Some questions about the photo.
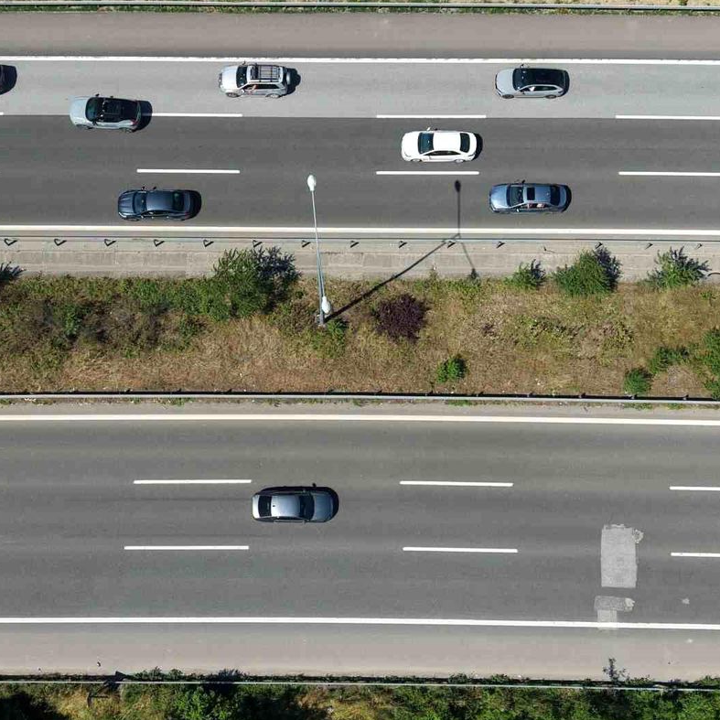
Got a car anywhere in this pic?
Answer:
Yes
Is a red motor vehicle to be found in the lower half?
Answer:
No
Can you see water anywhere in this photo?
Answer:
No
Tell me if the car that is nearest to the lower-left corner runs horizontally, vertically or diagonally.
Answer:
horizontally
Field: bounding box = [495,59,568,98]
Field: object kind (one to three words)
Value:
car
